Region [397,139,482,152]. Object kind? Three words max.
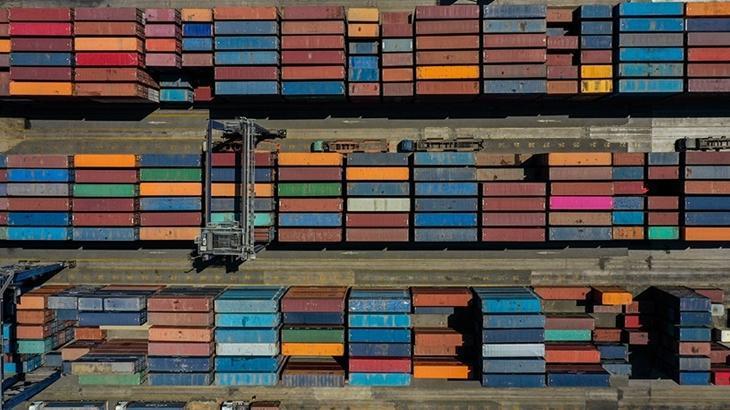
vehicle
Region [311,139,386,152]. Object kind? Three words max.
vehicle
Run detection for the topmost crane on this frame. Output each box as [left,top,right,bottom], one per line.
[193,116,292,265]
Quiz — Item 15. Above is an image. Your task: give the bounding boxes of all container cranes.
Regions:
[0,258,76,410]
[193,116,292,265]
